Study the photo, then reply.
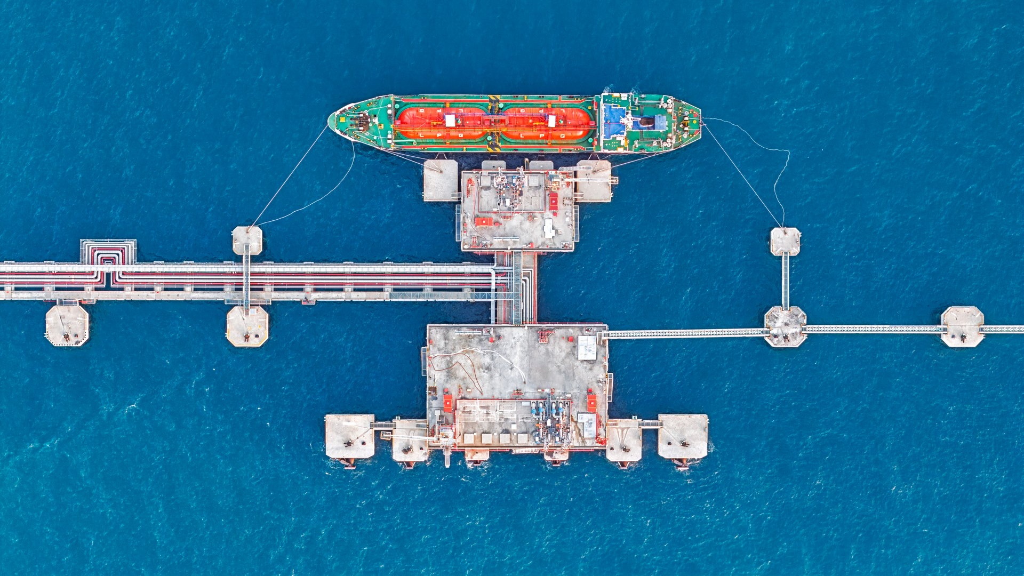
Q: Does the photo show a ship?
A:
Yes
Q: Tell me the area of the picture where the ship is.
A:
top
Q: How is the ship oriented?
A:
horizontally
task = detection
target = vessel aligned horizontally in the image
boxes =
[327,92,707,158]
